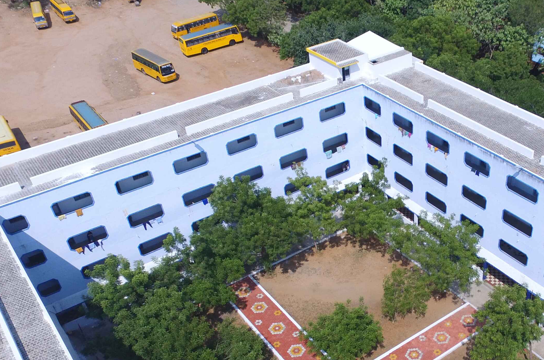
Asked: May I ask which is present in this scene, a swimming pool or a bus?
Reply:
bus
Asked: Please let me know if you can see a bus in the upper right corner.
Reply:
No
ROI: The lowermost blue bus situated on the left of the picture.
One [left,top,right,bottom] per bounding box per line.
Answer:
[68,101,105,129]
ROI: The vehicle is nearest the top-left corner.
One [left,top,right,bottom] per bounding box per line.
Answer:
[29,2,47,27]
